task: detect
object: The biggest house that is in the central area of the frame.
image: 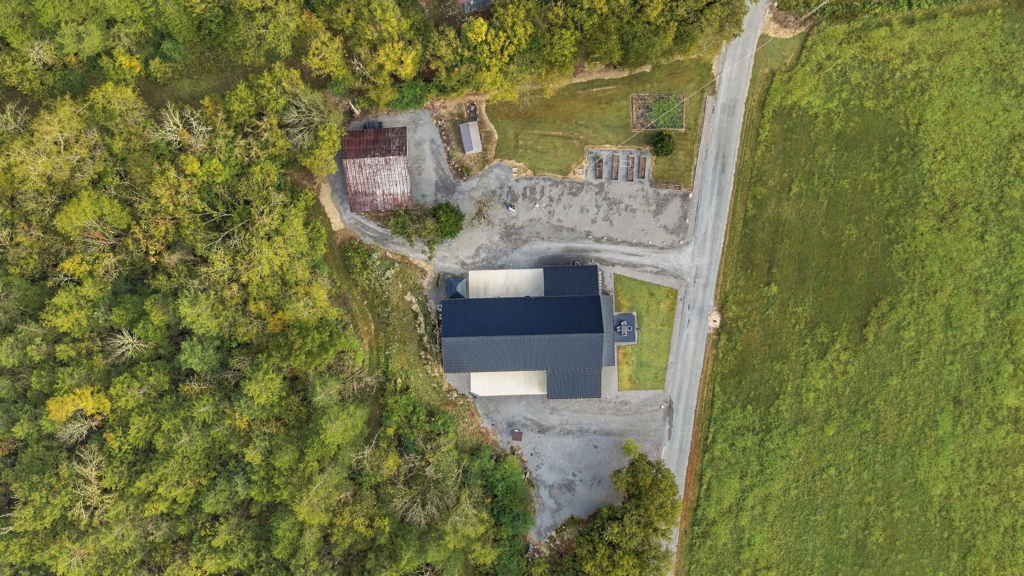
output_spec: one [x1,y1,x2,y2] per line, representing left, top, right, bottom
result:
[442,264,616,400]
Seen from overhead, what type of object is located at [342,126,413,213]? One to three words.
barn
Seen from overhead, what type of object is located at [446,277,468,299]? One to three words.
gazebo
